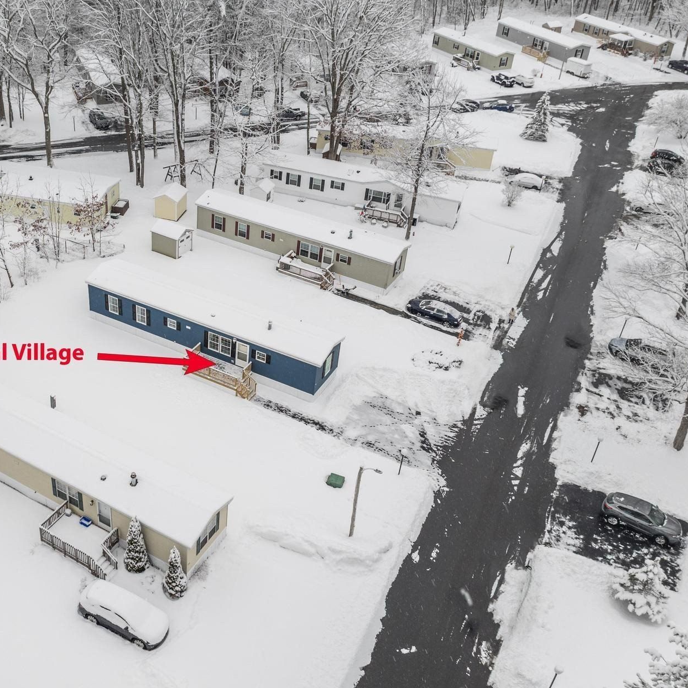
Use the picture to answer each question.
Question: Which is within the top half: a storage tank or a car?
car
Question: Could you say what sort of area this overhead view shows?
residential area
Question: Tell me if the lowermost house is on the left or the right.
left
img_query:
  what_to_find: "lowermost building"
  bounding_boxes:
[0,388,233,576]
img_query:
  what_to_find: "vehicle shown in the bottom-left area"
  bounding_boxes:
[76,580,168,654]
